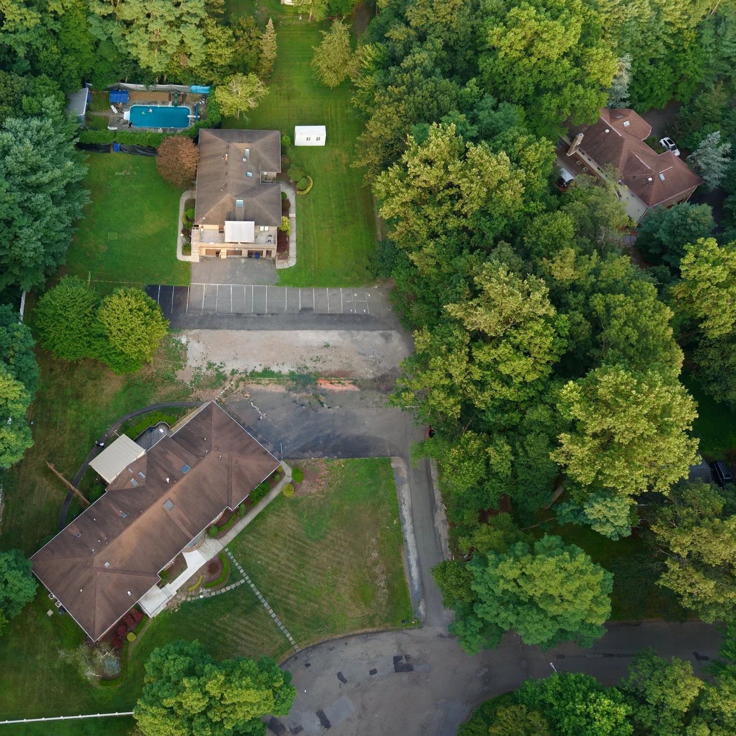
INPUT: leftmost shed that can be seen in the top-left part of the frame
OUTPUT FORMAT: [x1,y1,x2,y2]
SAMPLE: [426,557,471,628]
[69,87,88,125]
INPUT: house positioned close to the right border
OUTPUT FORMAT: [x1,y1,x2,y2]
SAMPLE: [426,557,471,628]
[556,108,705,217]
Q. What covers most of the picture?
trees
